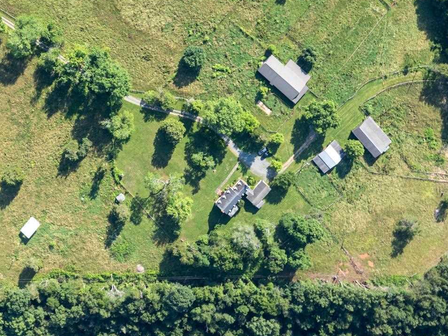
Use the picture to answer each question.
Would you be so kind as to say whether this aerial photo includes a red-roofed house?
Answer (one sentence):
No, there's no red-roofed house here.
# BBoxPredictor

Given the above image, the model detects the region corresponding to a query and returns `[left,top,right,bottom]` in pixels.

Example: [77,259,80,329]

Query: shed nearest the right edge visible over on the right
[350,116,392,158]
